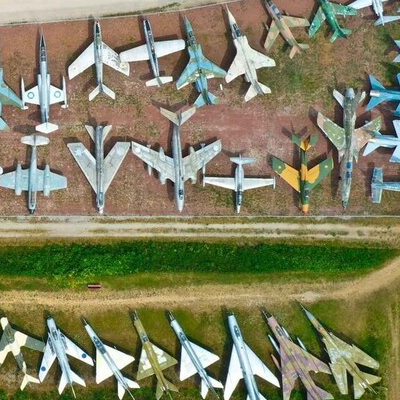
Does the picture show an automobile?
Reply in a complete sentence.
No, the photo shows no automobile.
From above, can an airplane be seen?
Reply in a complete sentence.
Yes, this view includes an airplane.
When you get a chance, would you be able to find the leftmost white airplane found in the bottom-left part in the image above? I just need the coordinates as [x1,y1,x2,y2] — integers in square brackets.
[0,316,45,390]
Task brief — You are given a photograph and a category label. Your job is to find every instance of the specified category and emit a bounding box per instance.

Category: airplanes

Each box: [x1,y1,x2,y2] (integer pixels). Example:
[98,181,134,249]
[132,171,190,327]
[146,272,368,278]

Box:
[348,0,395,26]
[0,316,45,390]
[0,135,66,214]
[275,135,334,214]
[267,311,334,400]
[365,122,400,165]
[135,108,225,212]
[120,18,182,86]
[203,155,275,213]
[264,0,310,58]
[372,169,400,204]
[316,86,379,209]
[225,6,276,100]
[131,313,177,400]
[38,316,93,394]
[81,319,139,399]
[22,33,68,133]
[301,306,382,398]
[69,21,130,100]
[177,16,226,107]
[310,0,358,42]
[367,75,400,117]
[69,125,130,215]
[225,312,280,400]
[167,314,224,398]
